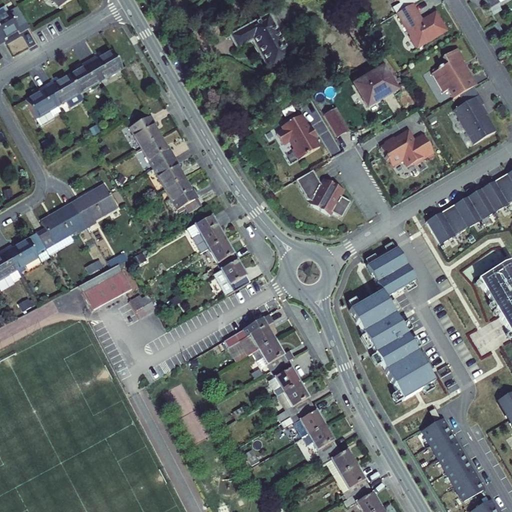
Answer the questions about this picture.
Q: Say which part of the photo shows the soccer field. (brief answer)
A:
bottom left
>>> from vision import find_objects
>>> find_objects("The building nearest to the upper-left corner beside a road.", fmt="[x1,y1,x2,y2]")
[0,6,30,56]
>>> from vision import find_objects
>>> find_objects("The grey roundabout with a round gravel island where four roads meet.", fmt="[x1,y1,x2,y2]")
[252,212,356,346]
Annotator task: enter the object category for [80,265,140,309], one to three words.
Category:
building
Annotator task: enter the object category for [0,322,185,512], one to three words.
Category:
soccer field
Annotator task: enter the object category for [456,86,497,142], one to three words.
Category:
house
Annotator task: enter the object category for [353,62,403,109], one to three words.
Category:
house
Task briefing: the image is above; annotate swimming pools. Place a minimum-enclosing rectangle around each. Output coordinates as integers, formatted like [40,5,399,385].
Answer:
[314,92,325,103]
[324,86,336,100]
